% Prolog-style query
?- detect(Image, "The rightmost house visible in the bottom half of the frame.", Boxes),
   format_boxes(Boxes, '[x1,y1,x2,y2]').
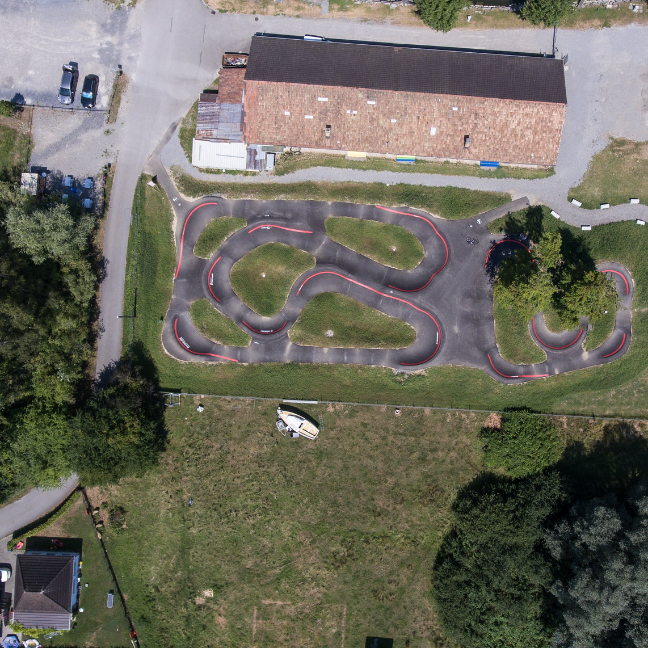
[12,550,79,633]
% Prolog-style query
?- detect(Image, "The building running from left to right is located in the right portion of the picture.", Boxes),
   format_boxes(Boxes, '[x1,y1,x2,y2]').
[242,35,571,168]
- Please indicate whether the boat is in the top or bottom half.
bottom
